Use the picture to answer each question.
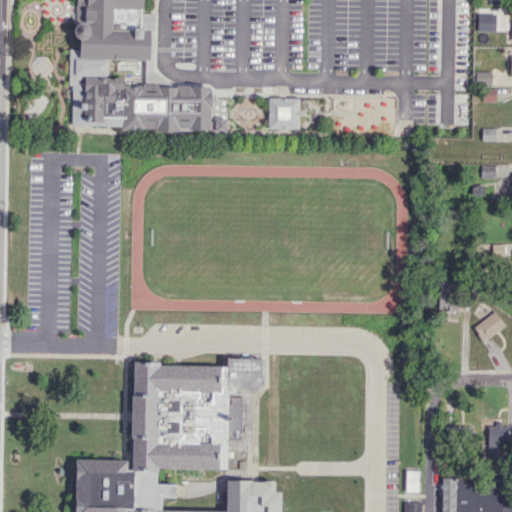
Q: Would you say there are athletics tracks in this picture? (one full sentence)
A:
Yes, an athletics track is visible in the scene.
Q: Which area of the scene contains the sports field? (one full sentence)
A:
Look in the center portion of the view to spot the sports field.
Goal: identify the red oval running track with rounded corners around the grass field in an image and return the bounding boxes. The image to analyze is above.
[131,164,410,314]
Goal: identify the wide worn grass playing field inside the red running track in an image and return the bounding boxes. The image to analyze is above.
[144,177,396,302]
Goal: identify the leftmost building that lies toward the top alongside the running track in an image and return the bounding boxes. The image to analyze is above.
[69,0,229,132]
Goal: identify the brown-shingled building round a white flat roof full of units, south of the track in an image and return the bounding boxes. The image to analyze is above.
[76,358,284,512]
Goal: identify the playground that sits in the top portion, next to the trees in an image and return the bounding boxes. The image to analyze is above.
[330,92,397,134]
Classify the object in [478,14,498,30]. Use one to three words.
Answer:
building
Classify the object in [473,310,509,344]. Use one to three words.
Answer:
house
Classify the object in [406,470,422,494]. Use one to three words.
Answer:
building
